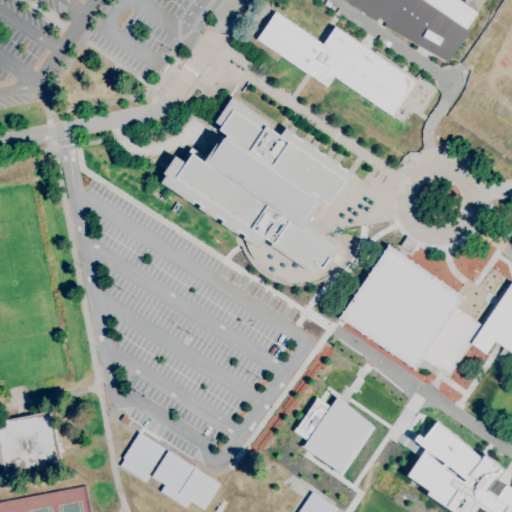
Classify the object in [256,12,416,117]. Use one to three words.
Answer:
building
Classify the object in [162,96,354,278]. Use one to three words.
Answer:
building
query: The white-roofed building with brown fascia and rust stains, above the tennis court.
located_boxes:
[0,414,64,474]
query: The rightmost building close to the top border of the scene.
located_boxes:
[354,0,479,62]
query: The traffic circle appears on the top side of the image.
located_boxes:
[392,150,512,251]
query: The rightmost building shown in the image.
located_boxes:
[470,280,512,356]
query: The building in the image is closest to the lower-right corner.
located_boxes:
[398,414,512,512]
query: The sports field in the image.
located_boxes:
[0,183,68,382]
